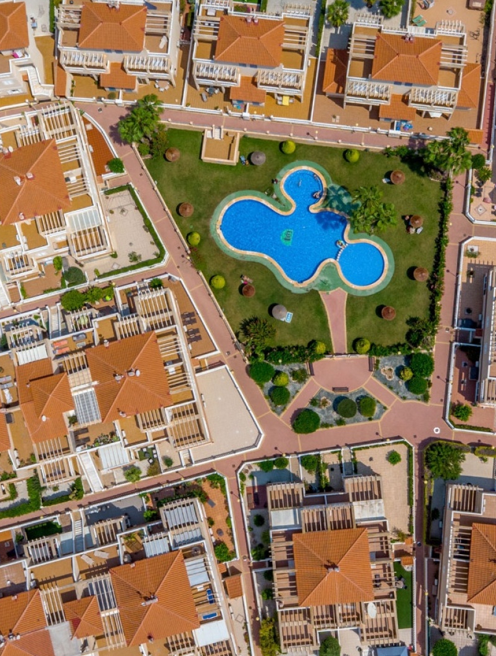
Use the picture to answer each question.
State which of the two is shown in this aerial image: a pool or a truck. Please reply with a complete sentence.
Visible in the photo is a pool.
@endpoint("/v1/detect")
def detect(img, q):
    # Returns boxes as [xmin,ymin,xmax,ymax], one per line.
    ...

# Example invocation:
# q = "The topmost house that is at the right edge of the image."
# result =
[323,13,482,125]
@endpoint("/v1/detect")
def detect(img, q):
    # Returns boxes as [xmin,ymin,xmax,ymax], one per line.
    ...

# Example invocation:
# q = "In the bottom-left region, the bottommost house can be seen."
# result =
[0,497,243,656]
